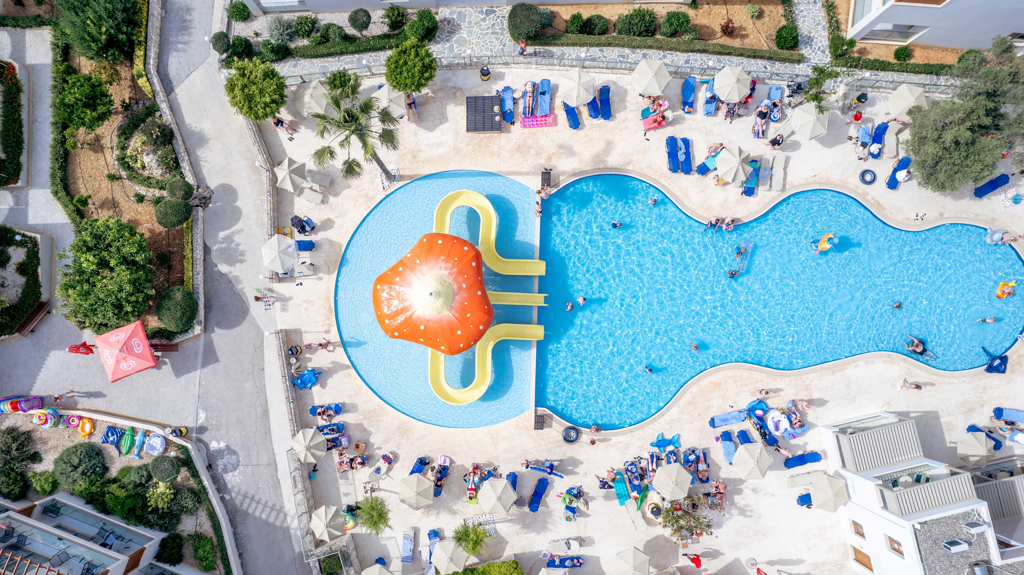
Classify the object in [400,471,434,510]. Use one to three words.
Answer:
umbrella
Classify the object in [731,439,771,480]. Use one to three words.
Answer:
umbrella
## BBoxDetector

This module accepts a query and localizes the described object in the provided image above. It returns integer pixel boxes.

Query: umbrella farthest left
[65,338,100,356]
